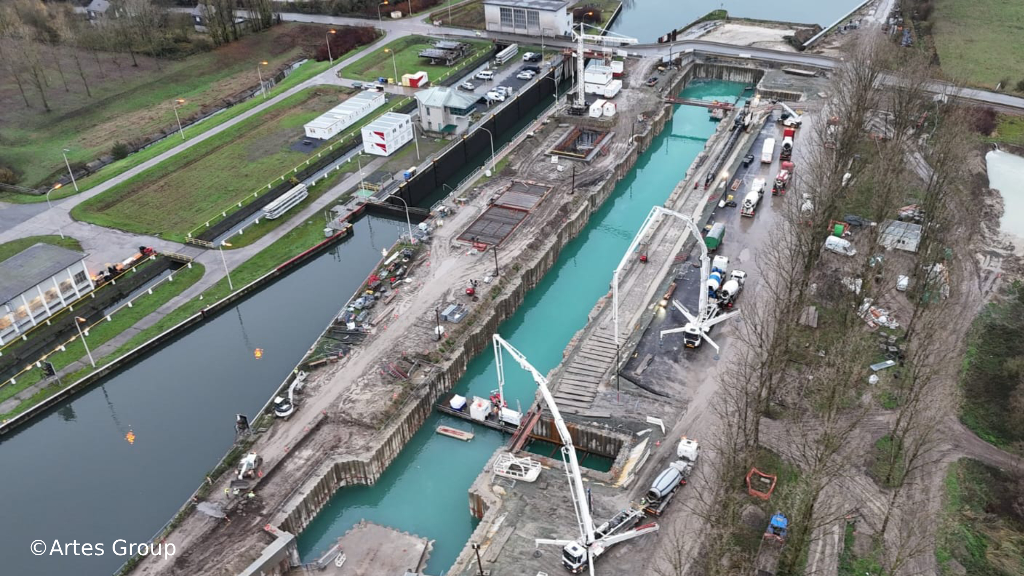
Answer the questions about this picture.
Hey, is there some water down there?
Yes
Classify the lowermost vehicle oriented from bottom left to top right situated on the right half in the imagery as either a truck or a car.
truck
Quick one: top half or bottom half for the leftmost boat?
bottom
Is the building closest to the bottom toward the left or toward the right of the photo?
left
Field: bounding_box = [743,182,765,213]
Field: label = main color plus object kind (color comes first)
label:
white truck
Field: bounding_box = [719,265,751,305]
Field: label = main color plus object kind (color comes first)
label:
white truck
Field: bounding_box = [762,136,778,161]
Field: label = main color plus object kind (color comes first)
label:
white vehicle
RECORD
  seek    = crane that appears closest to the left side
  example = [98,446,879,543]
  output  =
[562,22,639,116]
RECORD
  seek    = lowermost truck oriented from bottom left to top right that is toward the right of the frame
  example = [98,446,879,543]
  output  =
[644,438,700,512]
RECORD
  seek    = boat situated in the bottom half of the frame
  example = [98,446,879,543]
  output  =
[436,423,474,443]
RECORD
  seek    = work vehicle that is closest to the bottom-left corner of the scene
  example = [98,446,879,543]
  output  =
[225,452,262,495]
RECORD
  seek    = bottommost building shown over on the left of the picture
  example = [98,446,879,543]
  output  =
[0,241,98,346]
